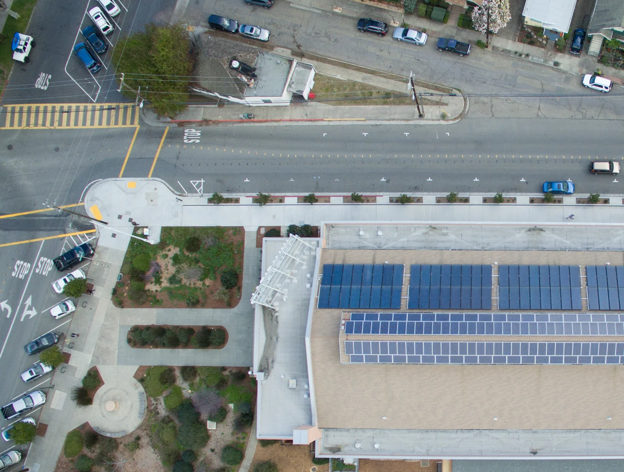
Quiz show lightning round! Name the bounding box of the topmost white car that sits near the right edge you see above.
[582,74,614,93]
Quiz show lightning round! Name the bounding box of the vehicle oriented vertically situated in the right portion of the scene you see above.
[571,27,586,56]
